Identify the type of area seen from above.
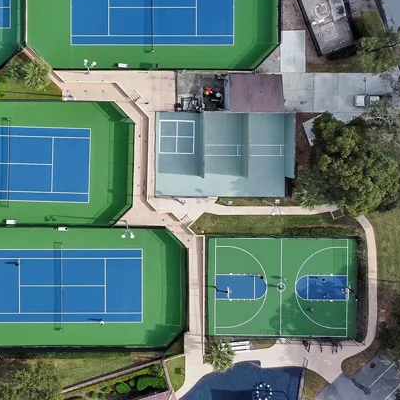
sports ground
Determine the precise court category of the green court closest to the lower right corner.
basketball court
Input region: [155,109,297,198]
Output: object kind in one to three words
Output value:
sports court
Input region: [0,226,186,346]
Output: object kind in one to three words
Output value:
tennis court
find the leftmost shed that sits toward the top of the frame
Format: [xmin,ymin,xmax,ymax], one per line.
[223,73,285,112]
